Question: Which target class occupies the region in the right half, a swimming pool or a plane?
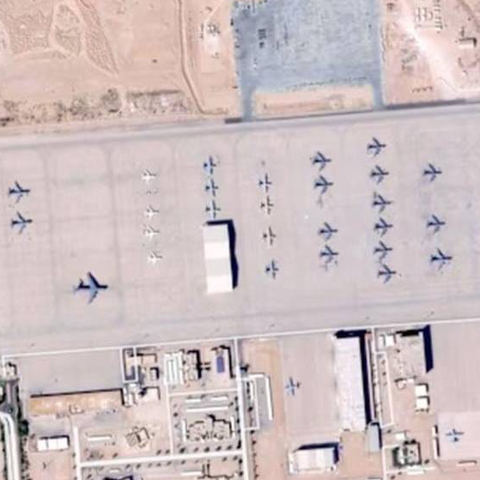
plane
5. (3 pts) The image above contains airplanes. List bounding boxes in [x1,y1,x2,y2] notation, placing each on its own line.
[425,216,443,234]
[443,428,462,442]
[312,176,331,194]
[318,223,335,241]
[319,246,336,264]
[369,165,387,184]
[428,249,450,271]
[376,265,394,282]
[9,214,30,234]
[259,198,272,216]
[204,202,218,219]
[73,275,104,304]
[373,242,390,260]
[372,195,390,213]
[147,253,160,264]
[257,176,271,193]
[201,158,215,175]
[422,164,440,183]
[5,183,28,203]
[145,228,158,239]
[366,139,384,156]
[261,229,274,246]
[310,152,329,171]
[373,218,391,236]
[203,180,216,198]
[144,207,157,219]
[142,172,155,184]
